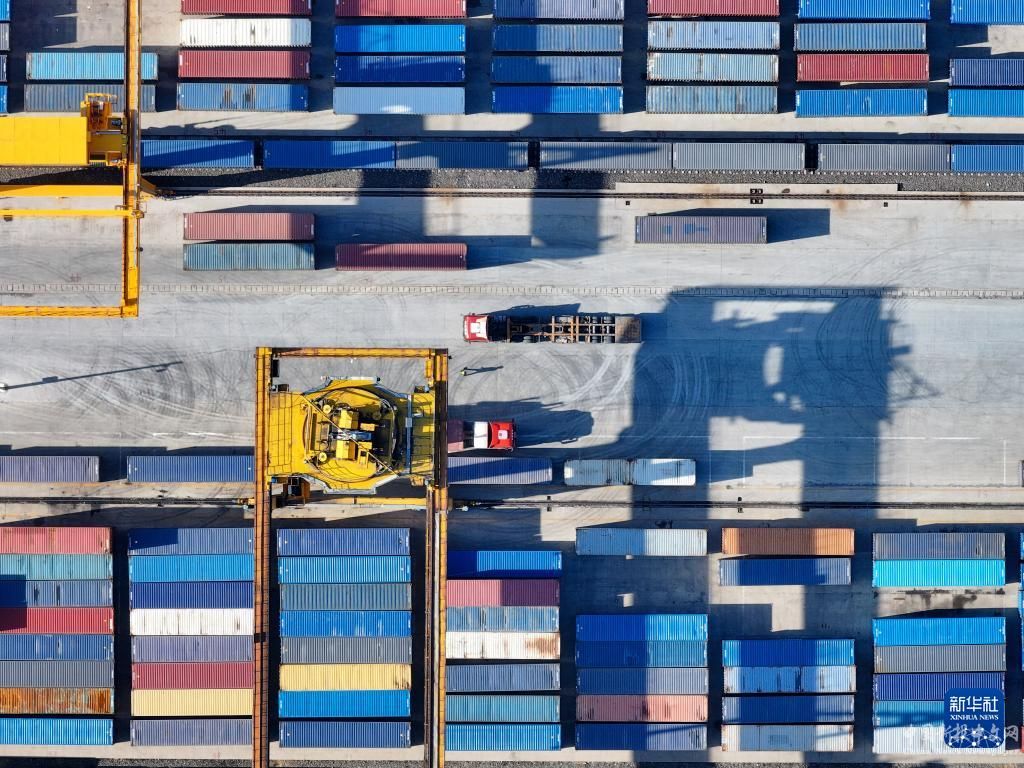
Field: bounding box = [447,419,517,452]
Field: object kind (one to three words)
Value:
truck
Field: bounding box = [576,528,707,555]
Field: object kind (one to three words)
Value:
shipping container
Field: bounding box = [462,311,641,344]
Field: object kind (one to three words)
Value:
truck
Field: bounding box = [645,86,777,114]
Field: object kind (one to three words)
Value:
shipping container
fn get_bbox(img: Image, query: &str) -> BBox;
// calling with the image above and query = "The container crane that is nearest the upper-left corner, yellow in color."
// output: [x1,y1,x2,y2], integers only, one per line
[0,0,182,318]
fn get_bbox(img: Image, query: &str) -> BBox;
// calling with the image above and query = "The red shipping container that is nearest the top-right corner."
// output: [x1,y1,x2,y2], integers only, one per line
[796,54,928,82]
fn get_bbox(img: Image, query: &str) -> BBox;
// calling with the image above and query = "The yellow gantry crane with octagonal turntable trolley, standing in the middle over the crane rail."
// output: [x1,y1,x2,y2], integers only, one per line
[245,348,469,768]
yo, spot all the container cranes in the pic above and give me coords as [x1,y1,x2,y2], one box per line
[245,348,469,768]
[0,0,182,318]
